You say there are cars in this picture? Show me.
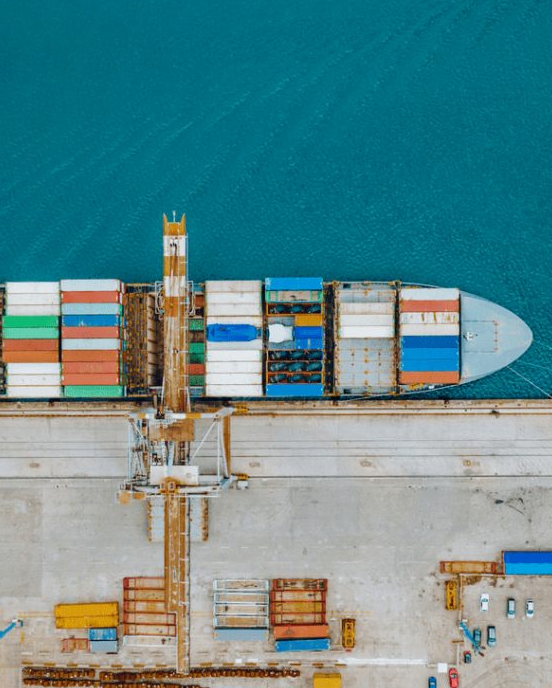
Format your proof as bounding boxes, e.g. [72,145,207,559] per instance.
[449,668,458,688]
[473,628,482,646]
[507,598,515,618]
[428,676,436,688]
[487,625,496,647]
[525,599,534,617]
[480,592,489,612]
[463,650,471,664]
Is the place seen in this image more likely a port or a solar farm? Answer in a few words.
port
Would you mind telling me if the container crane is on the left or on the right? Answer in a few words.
left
